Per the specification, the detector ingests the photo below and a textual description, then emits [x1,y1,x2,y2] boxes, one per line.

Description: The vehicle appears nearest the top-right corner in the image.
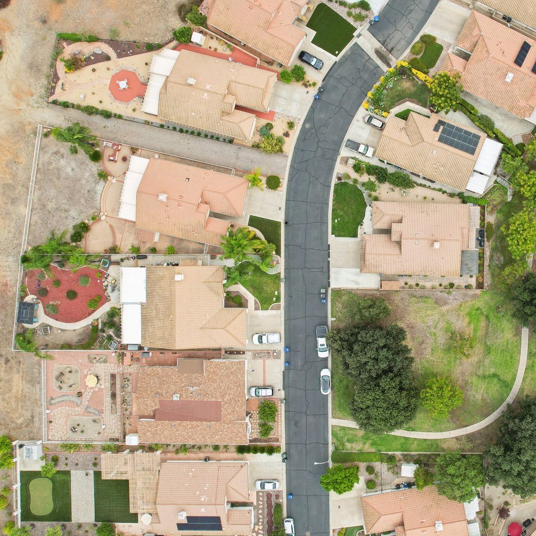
[363,114,386,130]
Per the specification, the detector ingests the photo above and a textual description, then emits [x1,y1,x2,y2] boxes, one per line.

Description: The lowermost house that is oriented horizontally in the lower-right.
[360,484,482,536]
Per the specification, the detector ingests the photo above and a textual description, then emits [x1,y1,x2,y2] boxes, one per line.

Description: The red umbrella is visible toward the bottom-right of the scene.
[508,523,522,536]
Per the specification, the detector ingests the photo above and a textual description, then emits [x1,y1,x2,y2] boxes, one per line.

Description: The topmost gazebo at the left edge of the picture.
[17,301,47,324]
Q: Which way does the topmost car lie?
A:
diagonally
